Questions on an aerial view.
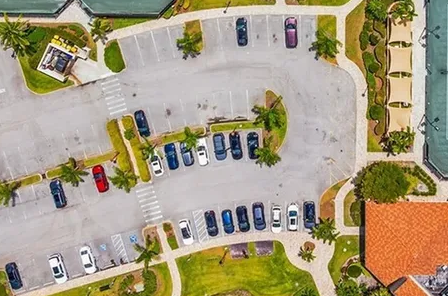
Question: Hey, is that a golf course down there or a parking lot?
parking lot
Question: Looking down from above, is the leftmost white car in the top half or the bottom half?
bottom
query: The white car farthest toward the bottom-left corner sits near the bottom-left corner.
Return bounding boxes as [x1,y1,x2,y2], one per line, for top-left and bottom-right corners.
[48,253,68,283]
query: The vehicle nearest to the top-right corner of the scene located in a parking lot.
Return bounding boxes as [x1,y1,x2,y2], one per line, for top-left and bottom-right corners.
[285,18,298,47]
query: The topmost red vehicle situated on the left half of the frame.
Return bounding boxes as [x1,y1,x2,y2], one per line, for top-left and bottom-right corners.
[93,163,109,192]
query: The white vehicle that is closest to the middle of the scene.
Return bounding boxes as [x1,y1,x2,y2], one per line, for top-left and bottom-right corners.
[195,136,210,165]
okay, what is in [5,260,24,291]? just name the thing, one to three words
car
